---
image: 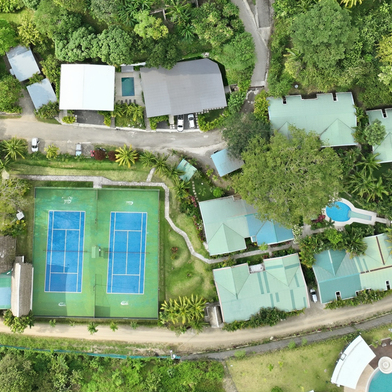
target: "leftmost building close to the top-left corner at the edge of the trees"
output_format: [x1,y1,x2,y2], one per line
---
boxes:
[7,46,41,81]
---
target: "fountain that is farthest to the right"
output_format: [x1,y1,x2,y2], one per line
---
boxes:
[377,357,392,374]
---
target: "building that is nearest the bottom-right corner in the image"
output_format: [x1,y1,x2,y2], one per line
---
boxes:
[330,334,376,386]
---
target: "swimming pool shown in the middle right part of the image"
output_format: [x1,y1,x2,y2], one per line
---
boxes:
[324,198,377,226]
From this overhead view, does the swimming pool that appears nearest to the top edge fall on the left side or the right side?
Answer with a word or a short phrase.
left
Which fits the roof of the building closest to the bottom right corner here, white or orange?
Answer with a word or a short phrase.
white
